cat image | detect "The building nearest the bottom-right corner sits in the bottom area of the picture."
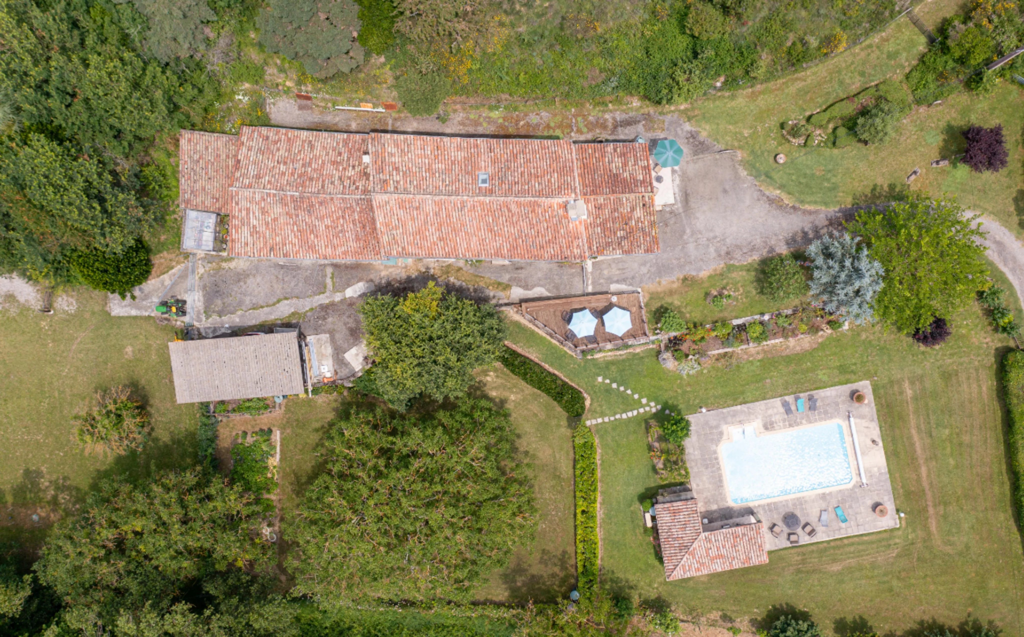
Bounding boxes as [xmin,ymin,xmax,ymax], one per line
[653,494,769,582]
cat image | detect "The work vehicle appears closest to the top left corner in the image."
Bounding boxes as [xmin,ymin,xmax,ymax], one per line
[154,299,187,319]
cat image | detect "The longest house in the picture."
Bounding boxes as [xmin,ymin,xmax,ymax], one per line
[179,124,661,266]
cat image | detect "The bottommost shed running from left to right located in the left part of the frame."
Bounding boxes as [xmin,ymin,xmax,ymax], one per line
[168,332,309,404]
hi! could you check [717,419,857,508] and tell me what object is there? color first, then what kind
white swimming pool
